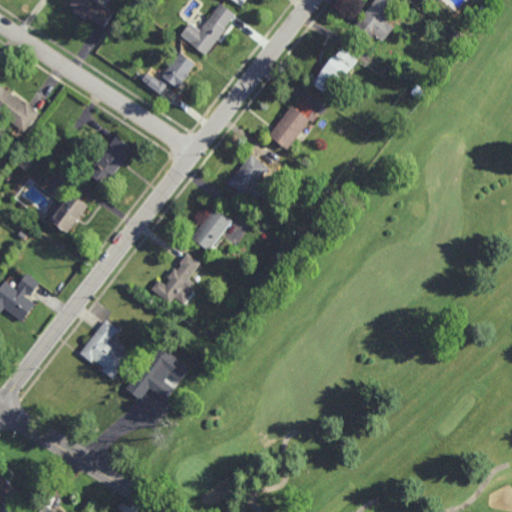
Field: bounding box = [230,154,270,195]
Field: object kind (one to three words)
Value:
house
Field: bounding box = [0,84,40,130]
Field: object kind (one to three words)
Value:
house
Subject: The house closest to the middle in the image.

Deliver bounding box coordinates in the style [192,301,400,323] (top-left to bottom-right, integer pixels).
[192,209,234,250]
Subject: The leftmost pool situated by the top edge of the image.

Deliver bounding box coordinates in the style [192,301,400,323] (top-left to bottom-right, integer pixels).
[180,0,205,28]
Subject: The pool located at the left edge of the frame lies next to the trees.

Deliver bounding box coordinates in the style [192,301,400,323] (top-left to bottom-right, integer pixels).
[14,182,52,214]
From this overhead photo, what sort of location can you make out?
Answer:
golf course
